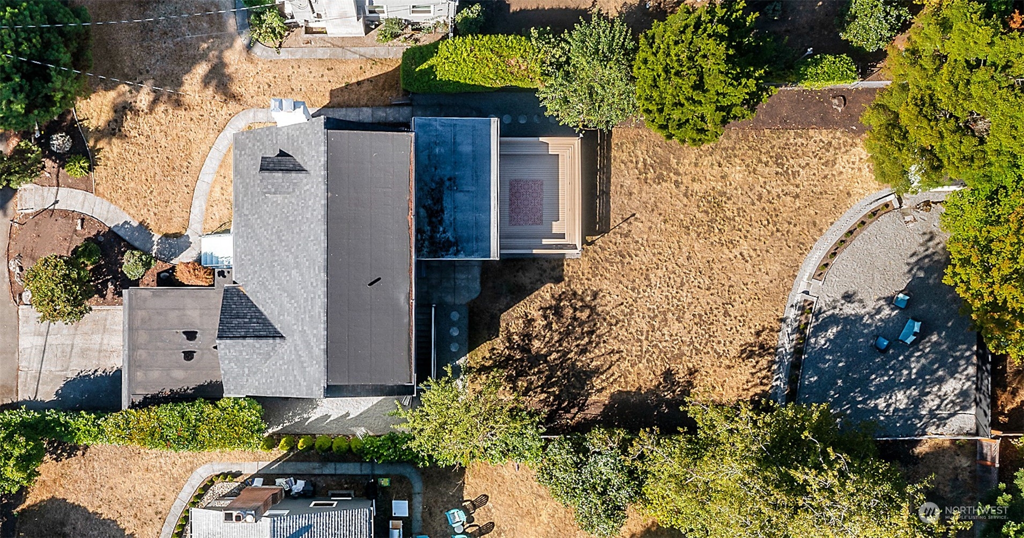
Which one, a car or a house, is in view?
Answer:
house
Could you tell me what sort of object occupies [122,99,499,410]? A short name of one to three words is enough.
house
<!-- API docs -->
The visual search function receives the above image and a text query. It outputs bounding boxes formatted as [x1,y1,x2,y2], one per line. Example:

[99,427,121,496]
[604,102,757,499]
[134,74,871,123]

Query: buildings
[270,0,459,36]
[122,99,499,410]
[188,482,380,538]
